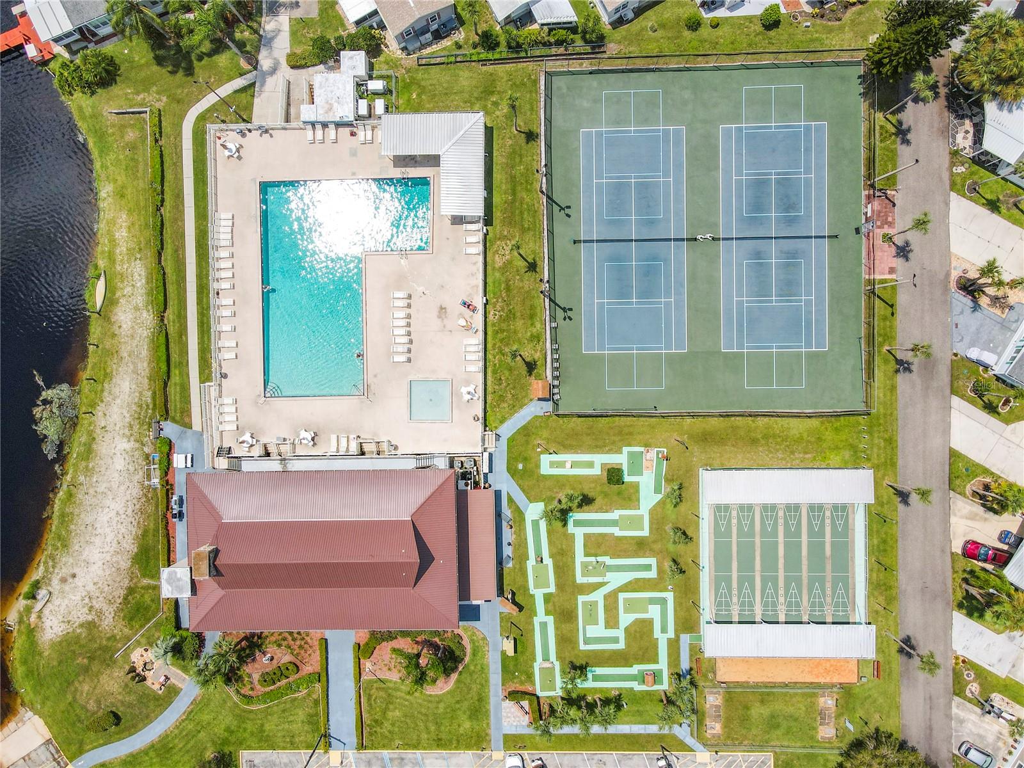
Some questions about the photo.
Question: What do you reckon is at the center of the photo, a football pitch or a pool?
pool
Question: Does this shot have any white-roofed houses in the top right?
Yes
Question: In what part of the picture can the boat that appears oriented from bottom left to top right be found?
bottom left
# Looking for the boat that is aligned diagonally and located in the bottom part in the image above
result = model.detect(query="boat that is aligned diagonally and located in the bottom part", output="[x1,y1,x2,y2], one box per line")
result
[31,588,51,613]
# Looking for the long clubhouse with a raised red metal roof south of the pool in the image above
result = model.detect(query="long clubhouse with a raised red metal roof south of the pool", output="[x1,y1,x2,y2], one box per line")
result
[186,468,497,633]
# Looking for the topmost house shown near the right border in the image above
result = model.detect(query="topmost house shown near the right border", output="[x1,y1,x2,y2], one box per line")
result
[968,95,1024,195]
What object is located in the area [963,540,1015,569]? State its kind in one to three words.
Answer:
truck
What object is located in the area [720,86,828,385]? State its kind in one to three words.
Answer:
tennis court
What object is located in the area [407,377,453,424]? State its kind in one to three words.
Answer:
swimming pool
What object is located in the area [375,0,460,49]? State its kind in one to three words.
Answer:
house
